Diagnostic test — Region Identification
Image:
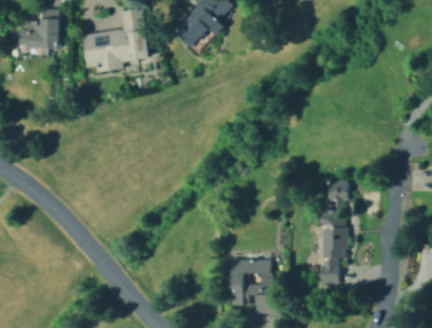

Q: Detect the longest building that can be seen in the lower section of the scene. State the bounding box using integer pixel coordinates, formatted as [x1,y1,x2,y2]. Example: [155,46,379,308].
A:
[320,180,350,286]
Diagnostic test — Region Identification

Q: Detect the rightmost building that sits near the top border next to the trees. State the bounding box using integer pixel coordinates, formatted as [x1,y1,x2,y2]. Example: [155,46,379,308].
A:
[182,0,234,44]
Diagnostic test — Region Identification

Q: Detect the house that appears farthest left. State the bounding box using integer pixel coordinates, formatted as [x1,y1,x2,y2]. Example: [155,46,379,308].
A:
[18,8,60,50]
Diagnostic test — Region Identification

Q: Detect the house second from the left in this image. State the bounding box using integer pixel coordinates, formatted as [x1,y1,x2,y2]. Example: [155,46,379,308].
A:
[83,10,148,74]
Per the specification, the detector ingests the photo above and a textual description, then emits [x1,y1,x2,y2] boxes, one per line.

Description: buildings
[18,8,60,50]
[230,258,274,306]
[320,180,350,286]
[83,10,148,74]
[182,0,234,44]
